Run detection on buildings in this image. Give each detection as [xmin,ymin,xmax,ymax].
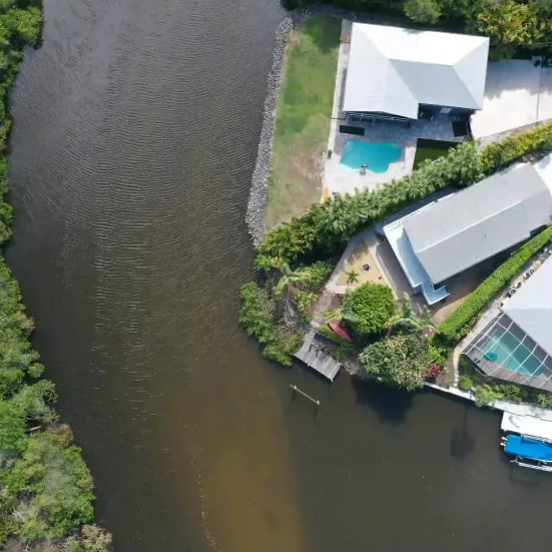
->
[499,255,552,357]
[343,23,490,128]
[382,164,552,304]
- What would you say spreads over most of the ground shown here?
water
